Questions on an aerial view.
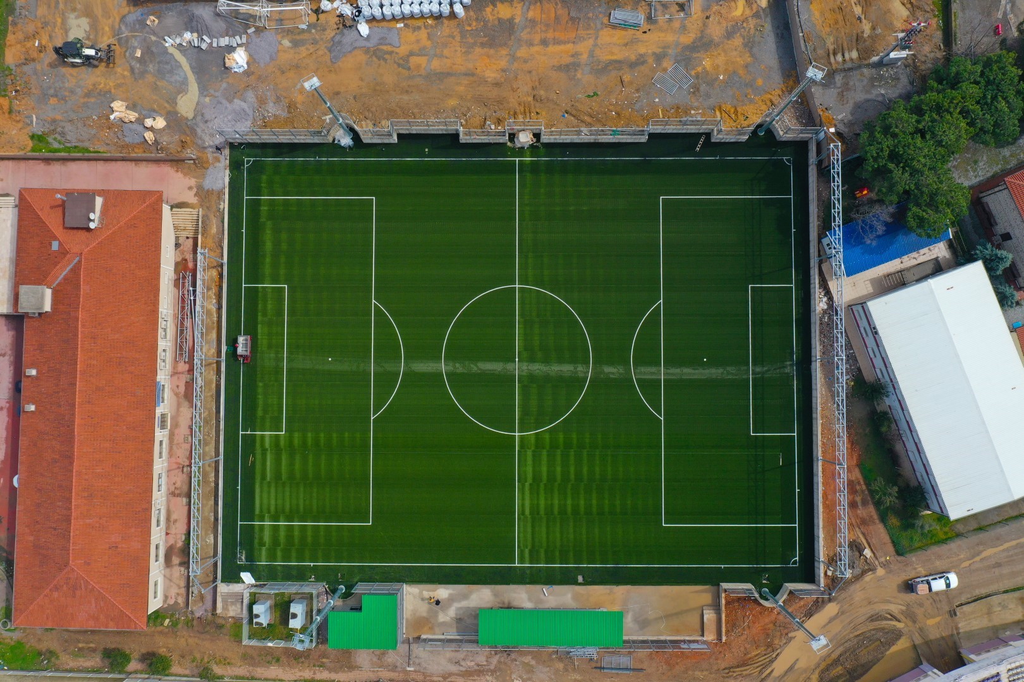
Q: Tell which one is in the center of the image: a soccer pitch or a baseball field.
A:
soccer pitch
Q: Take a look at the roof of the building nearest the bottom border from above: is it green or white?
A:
green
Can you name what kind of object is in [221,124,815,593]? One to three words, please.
soccer field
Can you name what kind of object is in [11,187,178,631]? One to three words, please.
building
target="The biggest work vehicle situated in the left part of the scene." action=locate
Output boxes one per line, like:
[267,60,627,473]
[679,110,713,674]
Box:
[51,37,114,65]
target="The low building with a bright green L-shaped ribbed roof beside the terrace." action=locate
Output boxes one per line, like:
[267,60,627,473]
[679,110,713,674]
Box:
[328,590,400,650]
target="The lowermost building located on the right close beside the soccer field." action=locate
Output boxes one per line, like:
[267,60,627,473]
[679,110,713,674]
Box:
[851,258,1024,521]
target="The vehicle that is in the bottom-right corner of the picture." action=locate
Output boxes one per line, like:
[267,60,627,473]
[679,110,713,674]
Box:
[910,574,961,599]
